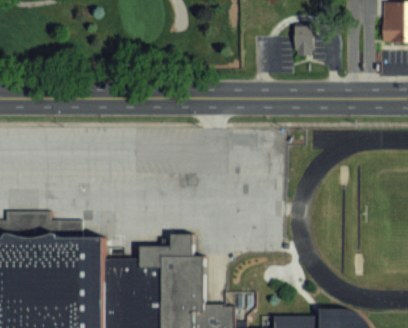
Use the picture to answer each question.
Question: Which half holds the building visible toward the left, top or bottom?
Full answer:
It is in the bottom half that the building visible toward the left appears.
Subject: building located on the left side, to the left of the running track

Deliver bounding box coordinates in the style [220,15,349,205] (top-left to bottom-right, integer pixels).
[0,210,258,328]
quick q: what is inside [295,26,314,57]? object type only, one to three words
building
